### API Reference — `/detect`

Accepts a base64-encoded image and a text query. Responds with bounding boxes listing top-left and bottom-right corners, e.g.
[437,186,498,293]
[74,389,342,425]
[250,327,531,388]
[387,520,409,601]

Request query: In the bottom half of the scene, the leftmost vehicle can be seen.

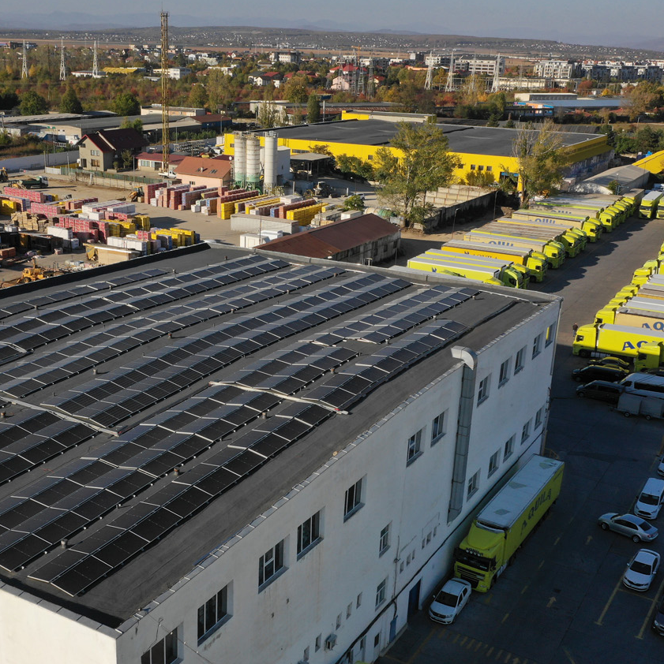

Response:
[427,581,473,627]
